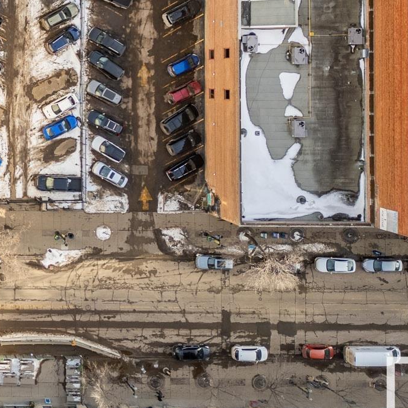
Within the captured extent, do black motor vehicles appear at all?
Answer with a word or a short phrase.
Yes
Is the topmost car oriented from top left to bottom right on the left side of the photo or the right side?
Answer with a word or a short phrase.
left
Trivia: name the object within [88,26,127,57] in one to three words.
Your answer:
car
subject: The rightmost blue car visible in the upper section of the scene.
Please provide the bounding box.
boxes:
[166,53,201,78]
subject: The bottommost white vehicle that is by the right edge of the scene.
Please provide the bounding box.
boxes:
[339,343,396,367]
